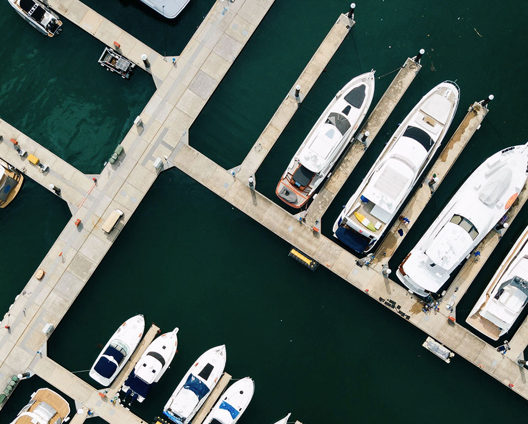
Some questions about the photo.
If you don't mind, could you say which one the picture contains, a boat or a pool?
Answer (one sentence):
The one in the frame is a boat.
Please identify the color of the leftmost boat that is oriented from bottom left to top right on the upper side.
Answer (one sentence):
From above, the leftmost boat that is oriented from bottom left to top right on the upper side appears white.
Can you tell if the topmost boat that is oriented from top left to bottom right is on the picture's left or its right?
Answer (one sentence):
The topmost boat that is oriented from top left to bottom right is on the left side of the image.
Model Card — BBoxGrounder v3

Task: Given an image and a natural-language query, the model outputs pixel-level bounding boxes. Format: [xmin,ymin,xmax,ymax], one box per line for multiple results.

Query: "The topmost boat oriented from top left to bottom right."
[7,0,64,40]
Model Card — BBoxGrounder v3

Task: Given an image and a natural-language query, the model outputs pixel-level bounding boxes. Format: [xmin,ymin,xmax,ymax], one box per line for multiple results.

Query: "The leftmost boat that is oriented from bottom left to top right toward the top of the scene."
[278,66,378,206]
